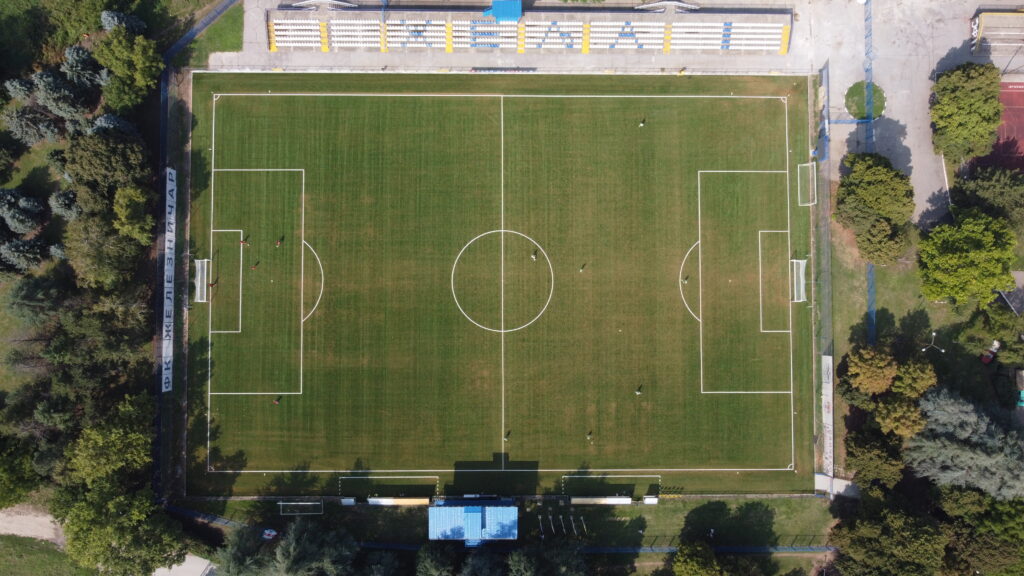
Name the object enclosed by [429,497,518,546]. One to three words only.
building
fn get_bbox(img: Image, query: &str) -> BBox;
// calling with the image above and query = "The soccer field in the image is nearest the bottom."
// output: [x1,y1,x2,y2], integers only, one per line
[186,74,814,498]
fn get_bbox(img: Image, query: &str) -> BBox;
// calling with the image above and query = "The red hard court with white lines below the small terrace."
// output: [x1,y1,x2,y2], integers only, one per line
[985,82,1024,171]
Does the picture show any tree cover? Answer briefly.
Yes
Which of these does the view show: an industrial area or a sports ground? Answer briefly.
sports ground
